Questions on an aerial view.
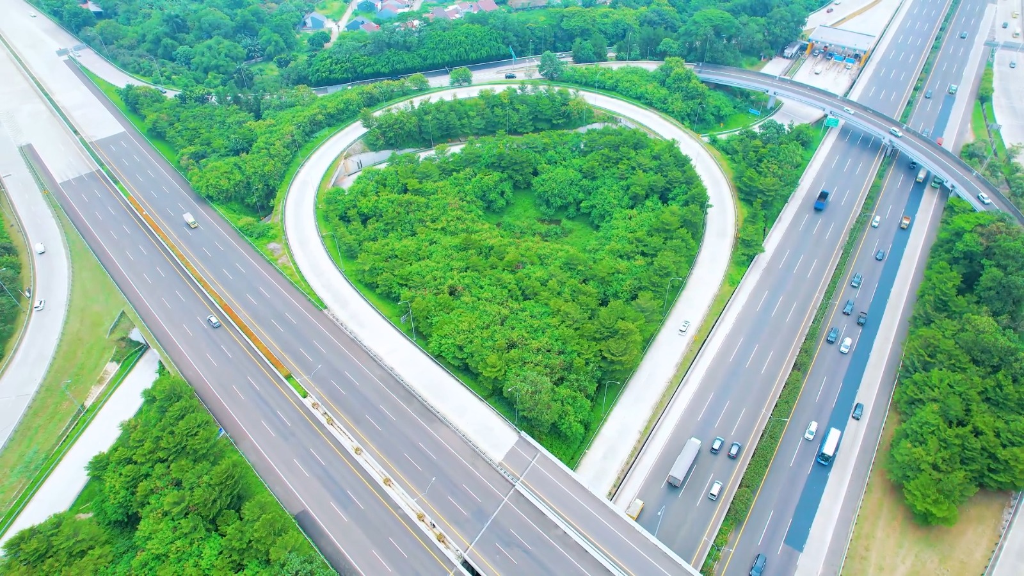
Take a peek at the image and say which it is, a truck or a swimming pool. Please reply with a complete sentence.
Looking from above, you can make out a truck.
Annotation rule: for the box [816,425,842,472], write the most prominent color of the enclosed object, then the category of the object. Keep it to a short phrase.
white bus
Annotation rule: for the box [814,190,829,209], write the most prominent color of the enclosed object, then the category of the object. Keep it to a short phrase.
blue vehicle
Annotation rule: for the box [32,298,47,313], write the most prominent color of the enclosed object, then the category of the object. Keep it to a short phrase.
white car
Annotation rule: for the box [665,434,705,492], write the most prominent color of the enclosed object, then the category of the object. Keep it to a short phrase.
white truck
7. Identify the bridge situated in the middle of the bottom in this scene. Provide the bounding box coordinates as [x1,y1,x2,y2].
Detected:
[432,431,712,576]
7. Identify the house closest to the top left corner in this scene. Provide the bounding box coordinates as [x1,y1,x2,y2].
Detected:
[303,11,335,34]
